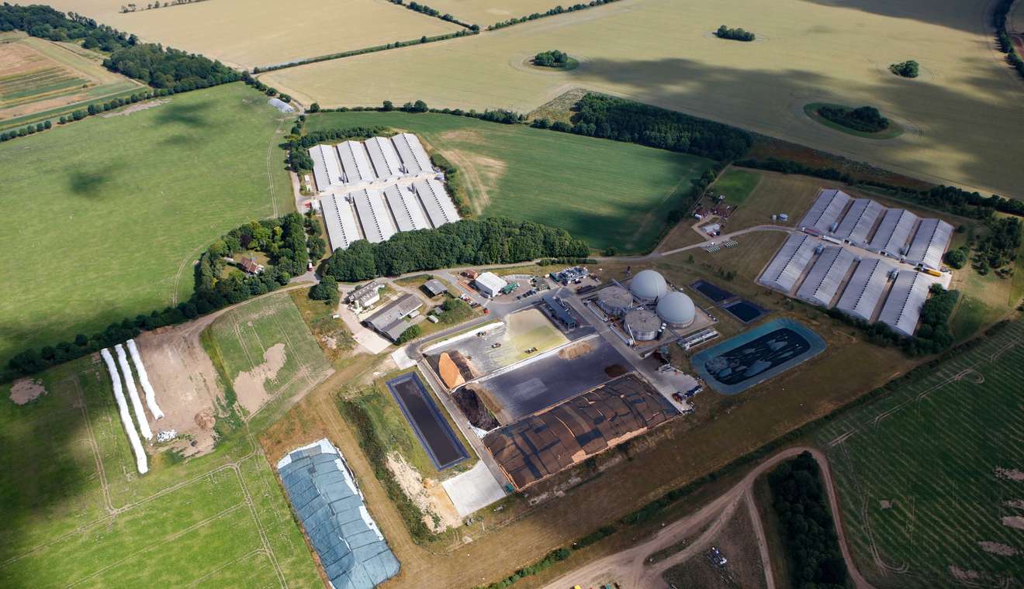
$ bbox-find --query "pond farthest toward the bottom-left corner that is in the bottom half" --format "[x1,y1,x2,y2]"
[380,369,477,477]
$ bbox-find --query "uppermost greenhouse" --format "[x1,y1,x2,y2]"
[264,95,297,113]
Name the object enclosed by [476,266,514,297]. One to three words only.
building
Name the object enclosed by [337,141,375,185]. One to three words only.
shed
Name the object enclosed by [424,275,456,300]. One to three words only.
barn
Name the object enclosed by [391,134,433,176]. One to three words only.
shed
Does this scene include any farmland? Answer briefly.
Yes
